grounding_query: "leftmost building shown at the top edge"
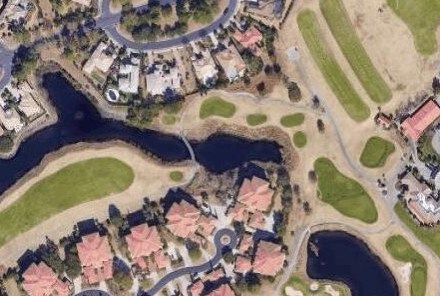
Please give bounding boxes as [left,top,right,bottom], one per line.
[0,0,30,28]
